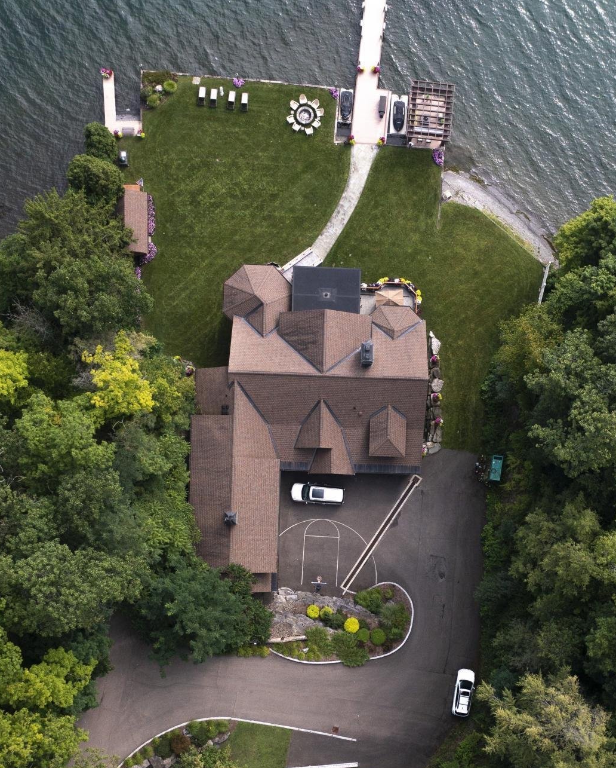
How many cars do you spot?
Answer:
2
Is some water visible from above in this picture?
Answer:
Yes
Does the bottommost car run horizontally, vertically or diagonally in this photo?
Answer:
vertically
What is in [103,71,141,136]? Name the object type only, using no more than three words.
pier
